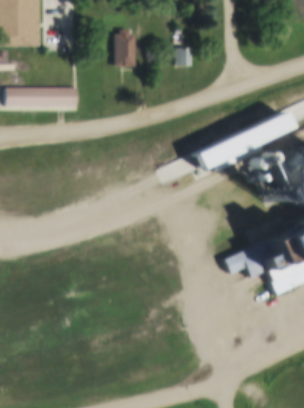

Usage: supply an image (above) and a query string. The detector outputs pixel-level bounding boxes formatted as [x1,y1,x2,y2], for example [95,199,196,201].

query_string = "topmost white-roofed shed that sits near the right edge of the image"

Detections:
[191,112,299,171]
